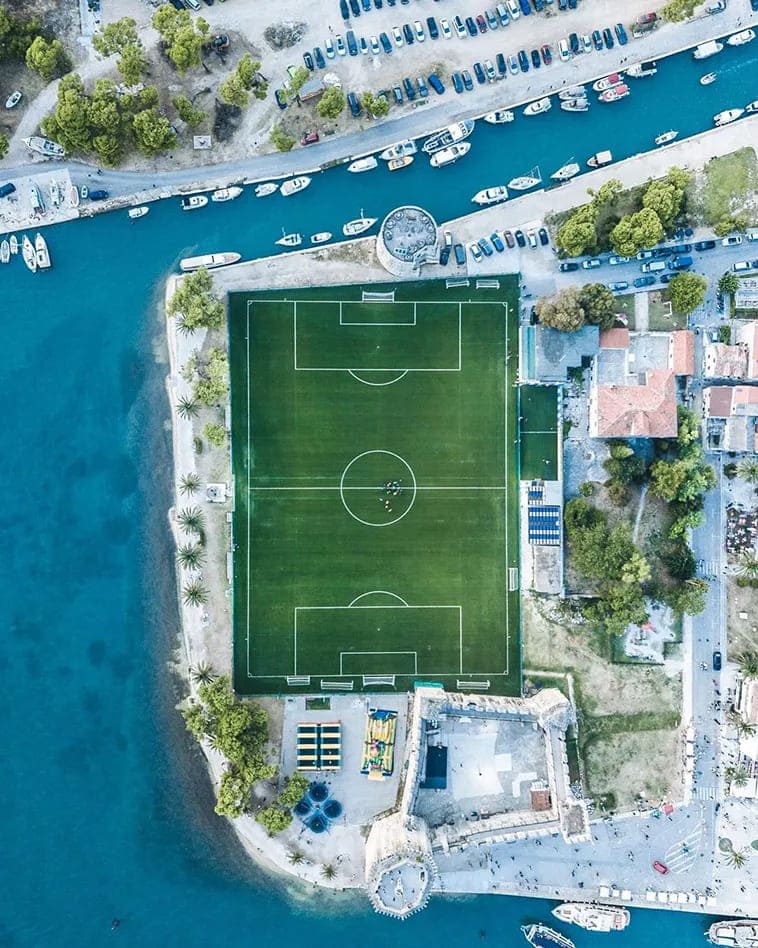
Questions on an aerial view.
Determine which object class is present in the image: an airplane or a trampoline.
trampoline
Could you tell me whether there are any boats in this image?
Yes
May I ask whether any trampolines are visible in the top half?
No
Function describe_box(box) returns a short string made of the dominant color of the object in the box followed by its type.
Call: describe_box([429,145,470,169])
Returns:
white boat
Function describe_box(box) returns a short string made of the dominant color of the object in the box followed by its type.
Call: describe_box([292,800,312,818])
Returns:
blue trampoline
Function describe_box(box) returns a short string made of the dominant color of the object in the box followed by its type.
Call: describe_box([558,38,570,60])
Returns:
white vehicle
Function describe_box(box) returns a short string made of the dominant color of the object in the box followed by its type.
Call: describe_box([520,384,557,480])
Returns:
green sports court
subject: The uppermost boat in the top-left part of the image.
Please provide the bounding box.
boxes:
[2,89,19,108]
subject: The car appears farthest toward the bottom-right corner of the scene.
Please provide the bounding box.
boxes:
[652,861,669,876]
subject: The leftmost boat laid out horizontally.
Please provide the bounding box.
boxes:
[20,137,68,156]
